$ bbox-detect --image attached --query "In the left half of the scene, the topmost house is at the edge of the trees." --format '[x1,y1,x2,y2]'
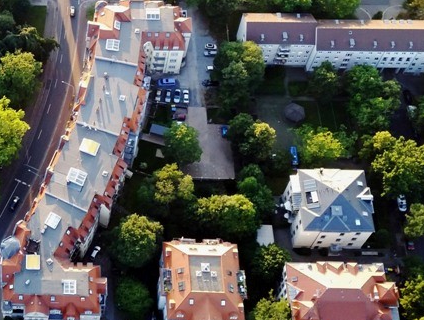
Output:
[78,0,195,92]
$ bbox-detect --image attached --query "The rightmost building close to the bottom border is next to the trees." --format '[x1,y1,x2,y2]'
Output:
[270,260,402,320]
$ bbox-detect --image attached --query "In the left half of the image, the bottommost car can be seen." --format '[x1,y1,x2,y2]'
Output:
[90,243,102,260]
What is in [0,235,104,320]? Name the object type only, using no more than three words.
house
